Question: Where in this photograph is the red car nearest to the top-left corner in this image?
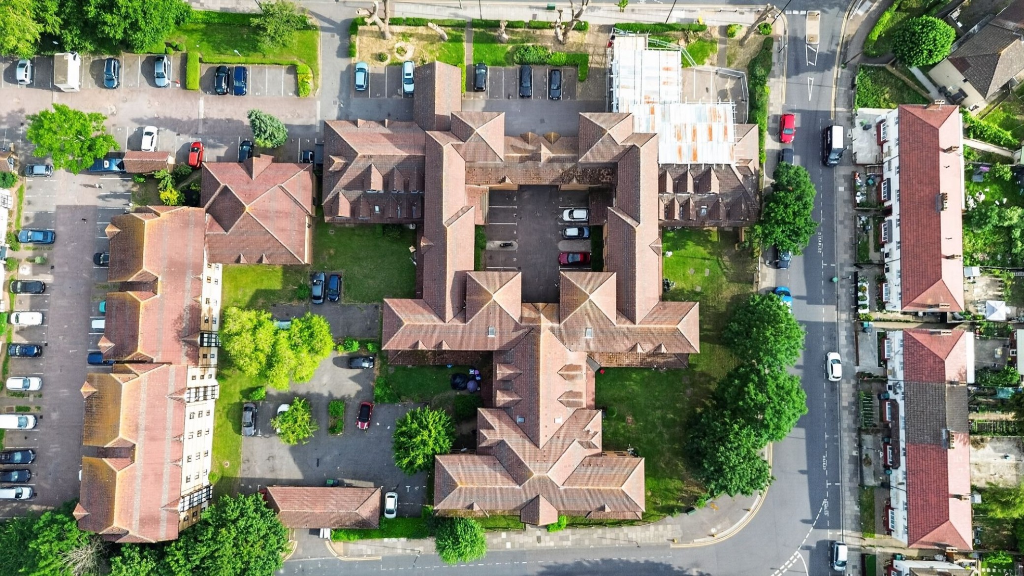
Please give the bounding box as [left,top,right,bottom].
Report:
[188,141,206,170]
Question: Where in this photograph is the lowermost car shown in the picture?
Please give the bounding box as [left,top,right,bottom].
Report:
[829,540,846,570]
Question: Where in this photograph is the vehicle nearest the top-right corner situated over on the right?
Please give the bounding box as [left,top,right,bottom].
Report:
[821,124,845,165]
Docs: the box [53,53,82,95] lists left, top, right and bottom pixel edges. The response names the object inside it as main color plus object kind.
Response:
white van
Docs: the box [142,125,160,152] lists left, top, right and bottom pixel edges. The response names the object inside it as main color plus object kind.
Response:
white car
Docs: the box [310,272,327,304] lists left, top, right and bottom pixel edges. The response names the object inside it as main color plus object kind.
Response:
blue car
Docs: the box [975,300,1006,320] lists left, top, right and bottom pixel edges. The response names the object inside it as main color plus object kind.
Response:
white gazebo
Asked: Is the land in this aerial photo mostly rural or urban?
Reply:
urban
